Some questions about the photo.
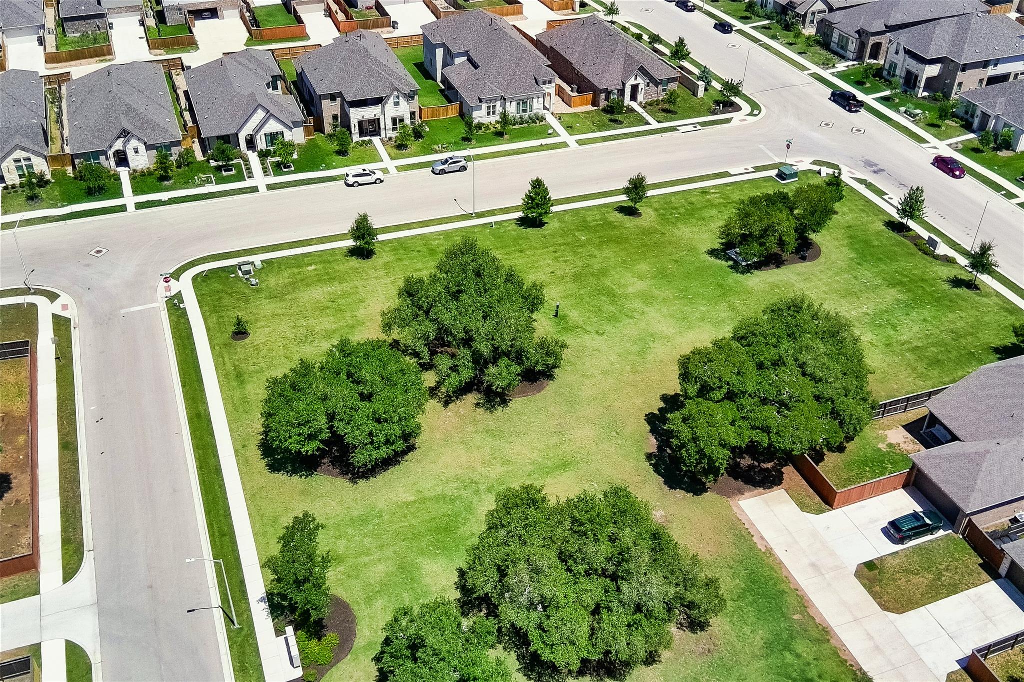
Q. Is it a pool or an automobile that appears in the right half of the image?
automobile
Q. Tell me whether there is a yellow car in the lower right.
No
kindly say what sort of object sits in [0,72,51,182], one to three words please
house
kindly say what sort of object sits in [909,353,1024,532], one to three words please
house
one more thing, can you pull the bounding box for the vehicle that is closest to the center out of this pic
[431,154,471,175]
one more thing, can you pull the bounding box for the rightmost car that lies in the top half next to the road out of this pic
[931,152,967,176]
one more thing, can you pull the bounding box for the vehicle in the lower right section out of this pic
[885,512,943,548]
